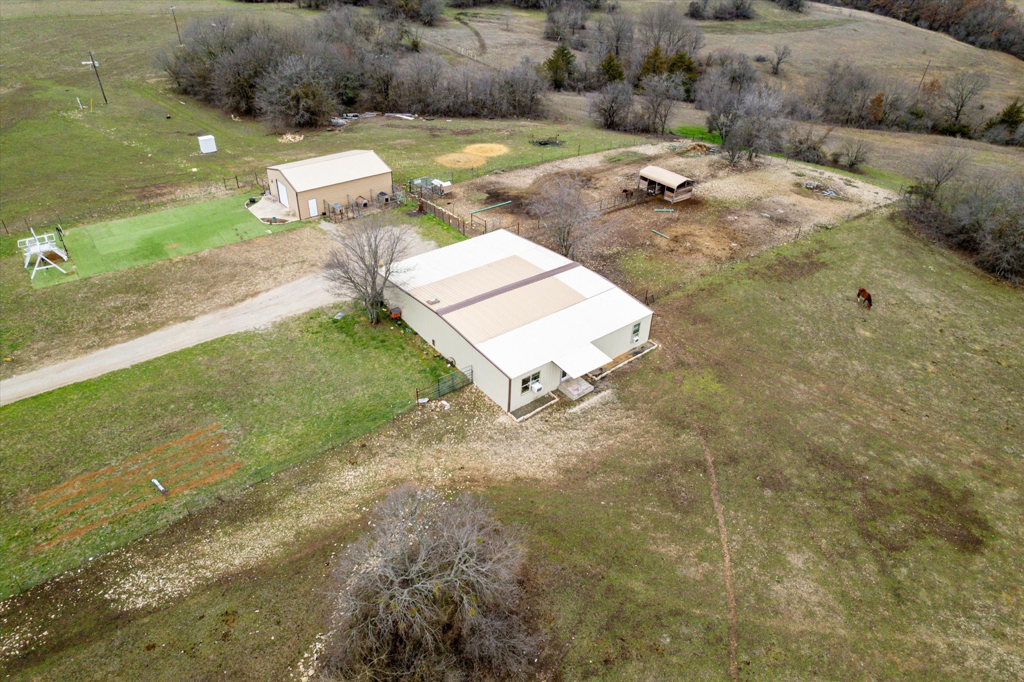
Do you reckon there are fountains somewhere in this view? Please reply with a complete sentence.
No, I can see no fountain in this picture.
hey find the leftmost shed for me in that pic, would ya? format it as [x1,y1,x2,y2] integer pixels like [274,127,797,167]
[199,131,224,152]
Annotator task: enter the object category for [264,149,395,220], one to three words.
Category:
building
